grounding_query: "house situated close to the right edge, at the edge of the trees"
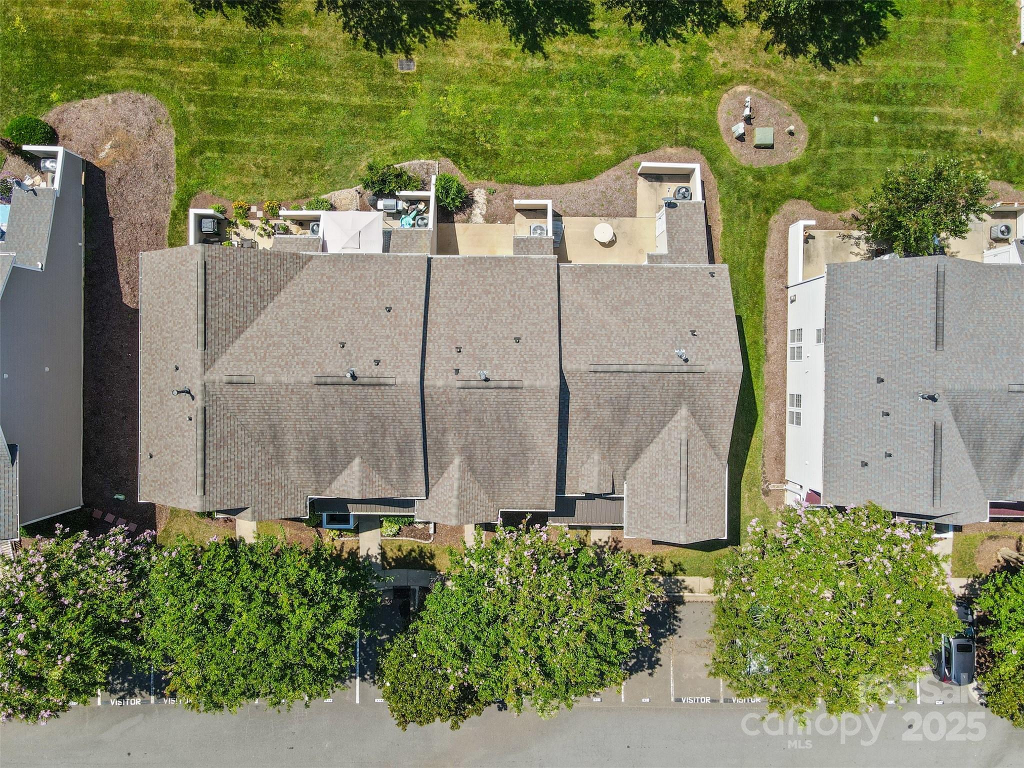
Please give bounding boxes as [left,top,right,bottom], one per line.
[781,237,1024,530]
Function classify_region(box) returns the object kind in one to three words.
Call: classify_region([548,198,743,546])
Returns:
house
